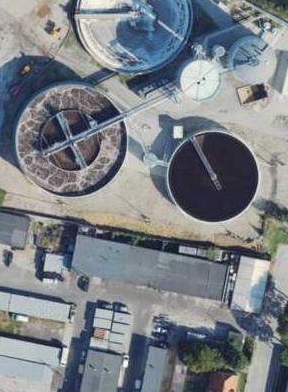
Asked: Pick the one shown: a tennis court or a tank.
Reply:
tank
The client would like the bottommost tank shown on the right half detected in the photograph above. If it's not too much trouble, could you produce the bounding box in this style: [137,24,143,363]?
[167,130,260,223]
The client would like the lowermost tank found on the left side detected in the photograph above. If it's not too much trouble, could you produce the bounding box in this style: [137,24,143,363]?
[16,83,181,196]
